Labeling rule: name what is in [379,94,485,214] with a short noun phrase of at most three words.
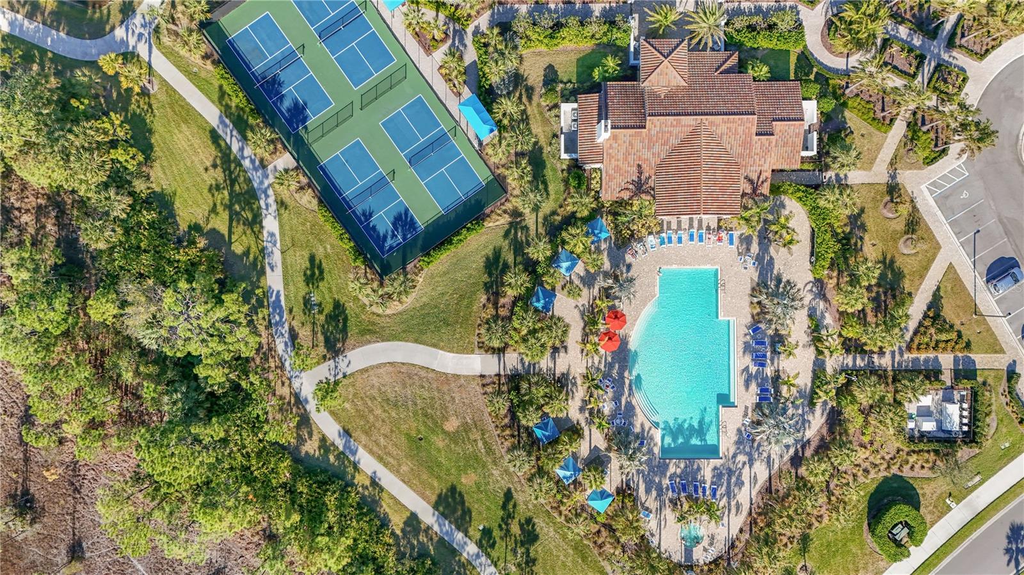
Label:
sports court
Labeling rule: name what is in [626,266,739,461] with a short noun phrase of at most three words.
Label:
swimming pool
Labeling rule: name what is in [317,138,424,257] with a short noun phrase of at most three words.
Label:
sports court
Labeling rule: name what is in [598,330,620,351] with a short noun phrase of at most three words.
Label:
umbrella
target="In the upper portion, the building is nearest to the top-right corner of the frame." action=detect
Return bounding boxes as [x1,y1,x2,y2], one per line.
[578,37,805,220]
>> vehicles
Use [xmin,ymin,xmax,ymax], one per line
[983,266,1024,297]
